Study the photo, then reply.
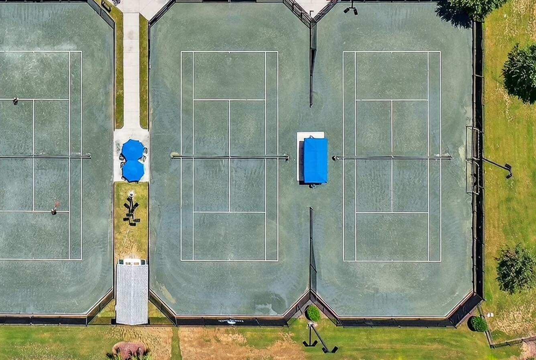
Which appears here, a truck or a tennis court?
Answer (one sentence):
This aerial view contains a tennis court.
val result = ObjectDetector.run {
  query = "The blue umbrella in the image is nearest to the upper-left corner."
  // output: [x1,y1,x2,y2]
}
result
[122,142,144,163]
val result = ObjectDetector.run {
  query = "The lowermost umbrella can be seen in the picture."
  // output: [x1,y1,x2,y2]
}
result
[122,162,144,184]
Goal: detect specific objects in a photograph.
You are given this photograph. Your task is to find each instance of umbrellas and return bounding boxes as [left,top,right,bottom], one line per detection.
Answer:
[122,142,144,163]
[122,162,144,184]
